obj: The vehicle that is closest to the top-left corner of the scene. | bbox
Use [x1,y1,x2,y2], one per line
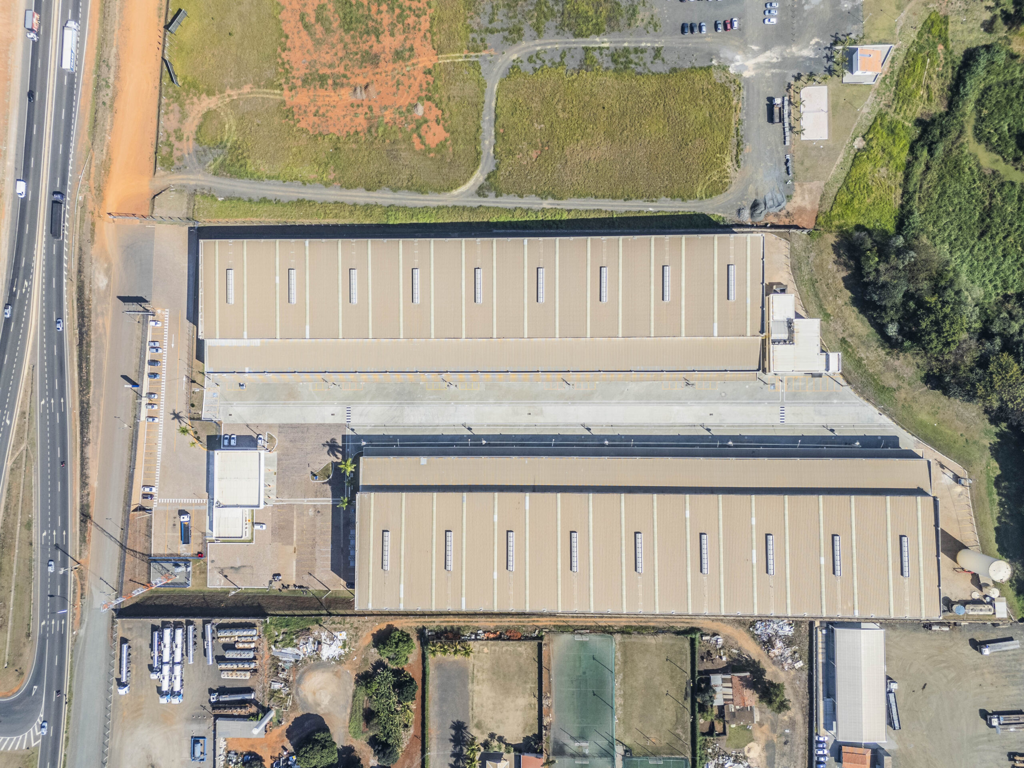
[25,11,40,43]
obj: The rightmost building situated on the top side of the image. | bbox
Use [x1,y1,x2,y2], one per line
[852,47,882,78]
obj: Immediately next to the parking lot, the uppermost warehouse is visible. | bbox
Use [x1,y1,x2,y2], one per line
[200,234,766,383]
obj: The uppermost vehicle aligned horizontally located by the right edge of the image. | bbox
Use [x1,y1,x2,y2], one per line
[976,638,1020,654]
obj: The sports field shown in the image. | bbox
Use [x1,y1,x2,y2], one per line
[551,635,689,768]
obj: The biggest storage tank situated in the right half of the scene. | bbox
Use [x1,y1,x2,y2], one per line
[956,548,1013,584]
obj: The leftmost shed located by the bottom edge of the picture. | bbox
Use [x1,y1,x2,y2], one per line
[216,717,267,738]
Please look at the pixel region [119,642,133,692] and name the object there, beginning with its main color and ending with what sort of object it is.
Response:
white vehicle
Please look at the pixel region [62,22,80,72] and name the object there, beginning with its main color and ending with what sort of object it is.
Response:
white vehicle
